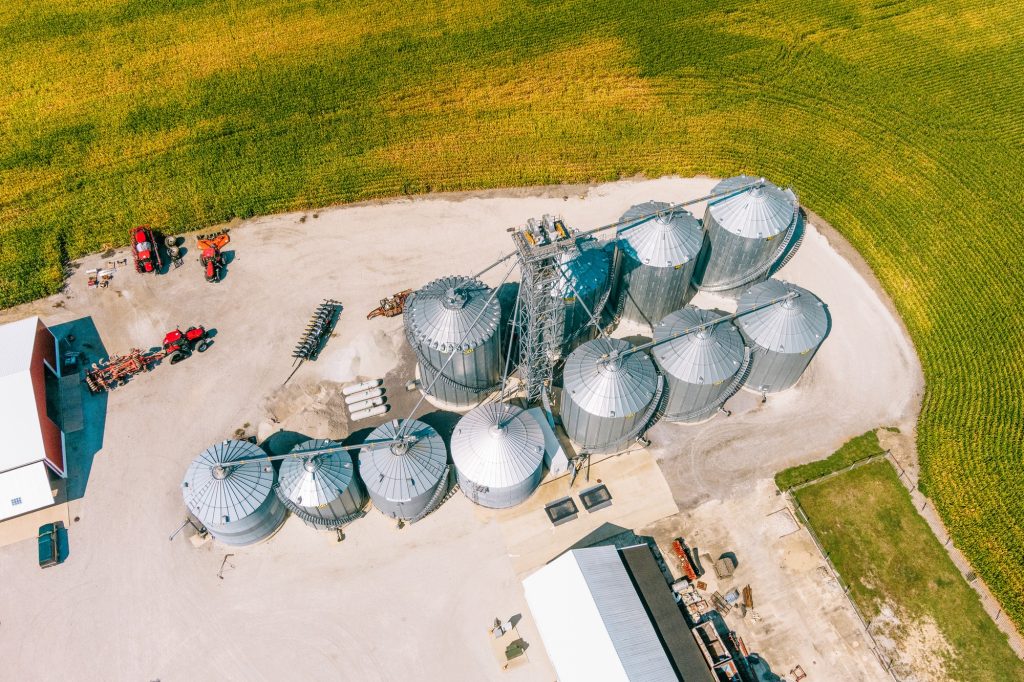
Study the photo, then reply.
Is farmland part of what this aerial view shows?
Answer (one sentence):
Yes, the picture does contain farmland.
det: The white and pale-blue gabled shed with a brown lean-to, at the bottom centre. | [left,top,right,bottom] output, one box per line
[523,541,714,682]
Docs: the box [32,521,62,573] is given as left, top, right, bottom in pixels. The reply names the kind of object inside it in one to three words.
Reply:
truck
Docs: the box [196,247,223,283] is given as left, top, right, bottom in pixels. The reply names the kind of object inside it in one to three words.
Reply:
work vehicle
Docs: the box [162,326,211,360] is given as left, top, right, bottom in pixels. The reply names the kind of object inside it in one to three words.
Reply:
work vehicle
